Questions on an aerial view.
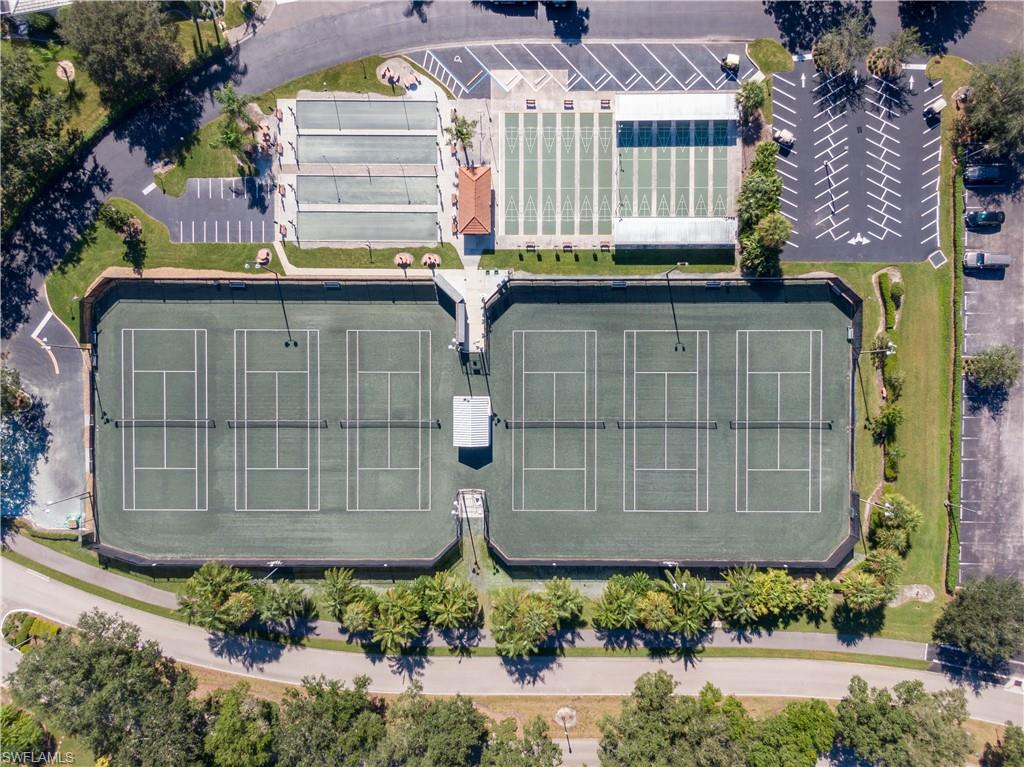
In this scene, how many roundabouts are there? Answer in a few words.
0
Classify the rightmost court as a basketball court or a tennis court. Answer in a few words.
tennis court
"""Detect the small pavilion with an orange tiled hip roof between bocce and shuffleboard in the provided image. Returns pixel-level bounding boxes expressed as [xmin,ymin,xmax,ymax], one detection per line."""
[458,166,492,234]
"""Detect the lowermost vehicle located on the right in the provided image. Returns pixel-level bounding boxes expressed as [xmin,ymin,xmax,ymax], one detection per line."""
[962,250,1010,269]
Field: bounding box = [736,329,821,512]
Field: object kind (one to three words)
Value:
tennis court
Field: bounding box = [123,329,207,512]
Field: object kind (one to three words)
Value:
tennis court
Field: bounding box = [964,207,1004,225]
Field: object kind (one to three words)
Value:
car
